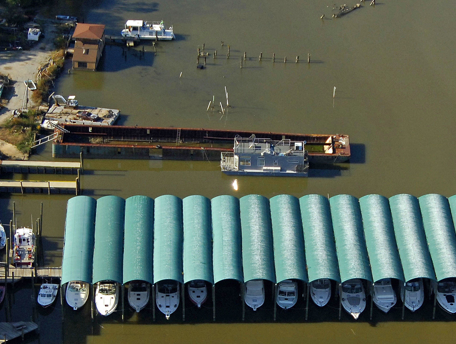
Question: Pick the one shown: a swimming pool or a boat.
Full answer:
There is a boat in the scene.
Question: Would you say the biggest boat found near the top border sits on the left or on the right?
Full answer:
You can find the biggest boat found near the top border on the left side of the picture.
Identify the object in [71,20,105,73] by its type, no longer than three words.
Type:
building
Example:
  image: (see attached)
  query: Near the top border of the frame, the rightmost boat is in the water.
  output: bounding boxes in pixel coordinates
[123,9,178,41]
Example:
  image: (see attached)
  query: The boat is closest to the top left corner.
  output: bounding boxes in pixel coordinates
[28,22,40,42]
